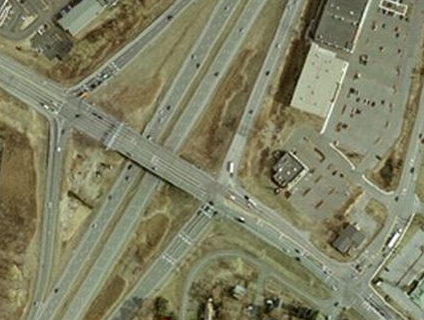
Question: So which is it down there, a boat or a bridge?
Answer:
bridge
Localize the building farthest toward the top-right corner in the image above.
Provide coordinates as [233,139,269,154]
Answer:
[313,0,372,53]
